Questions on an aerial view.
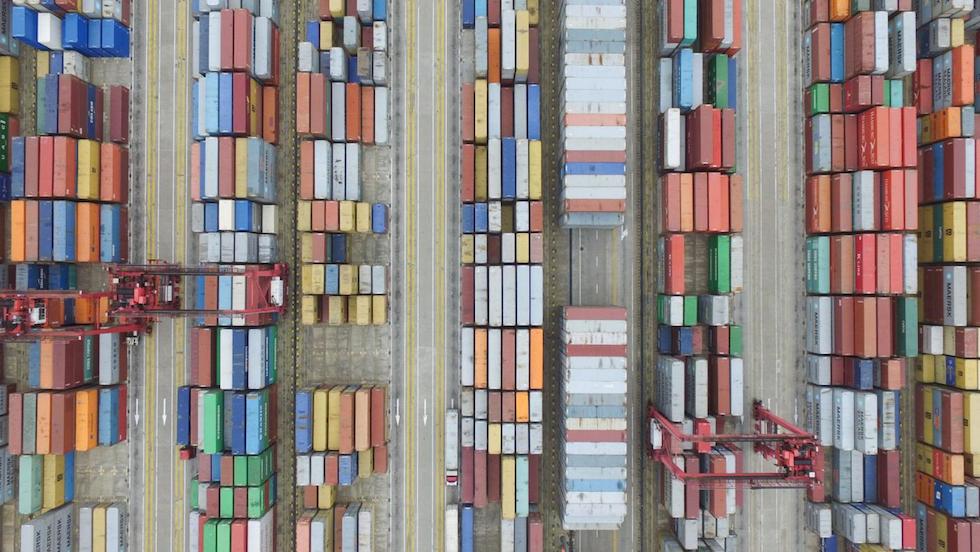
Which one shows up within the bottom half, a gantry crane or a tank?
gantry crane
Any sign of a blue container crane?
No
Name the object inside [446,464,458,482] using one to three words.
vehicle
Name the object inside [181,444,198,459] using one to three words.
vehicle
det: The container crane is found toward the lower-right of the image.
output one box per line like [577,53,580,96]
[649,400,818,487]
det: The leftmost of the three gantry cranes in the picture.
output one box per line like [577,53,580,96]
[0,278,155,343]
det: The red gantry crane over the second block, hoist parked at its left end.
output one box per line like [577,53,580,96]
[112,258,292,322]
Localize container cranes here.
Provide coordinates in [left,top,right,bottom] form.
[0,278,155,343]
[649,400,818,487]
[112,258,292,322]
